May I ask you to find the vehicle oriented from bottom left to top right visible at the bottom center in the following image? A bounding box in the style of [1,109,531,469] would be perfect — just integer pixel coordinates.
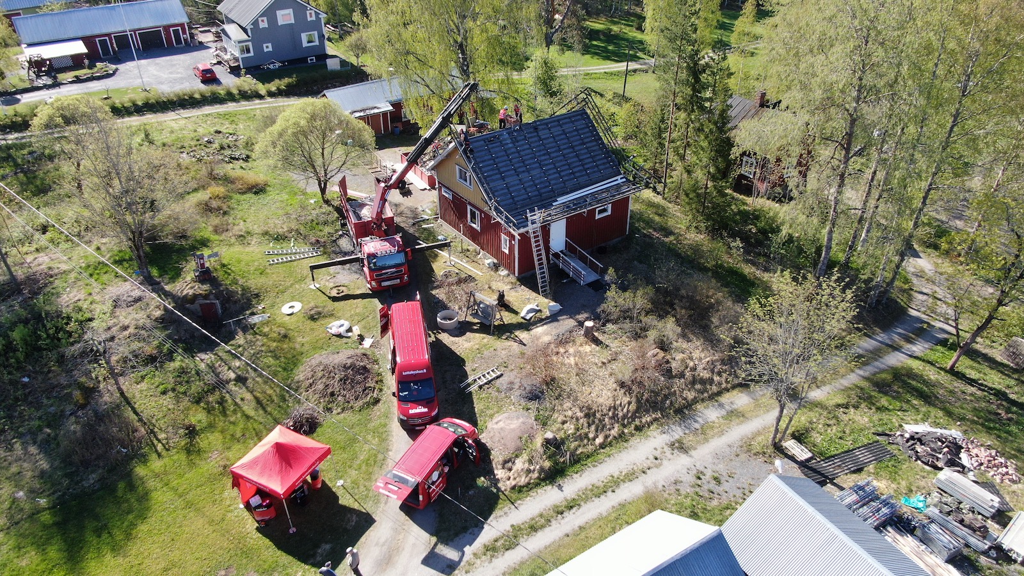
[372,420,480,504]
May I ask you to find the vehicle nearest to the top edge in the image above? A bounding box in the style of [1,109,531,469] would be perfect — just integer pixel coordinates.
[195,63,213,79]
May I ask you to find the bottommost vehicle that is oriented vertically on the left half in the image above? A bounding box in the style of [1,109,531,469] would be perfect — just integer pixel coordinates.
[375,298,441,424]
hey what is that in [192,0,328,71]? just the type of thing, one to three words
house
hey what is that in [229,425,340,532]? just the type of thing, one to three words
tent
